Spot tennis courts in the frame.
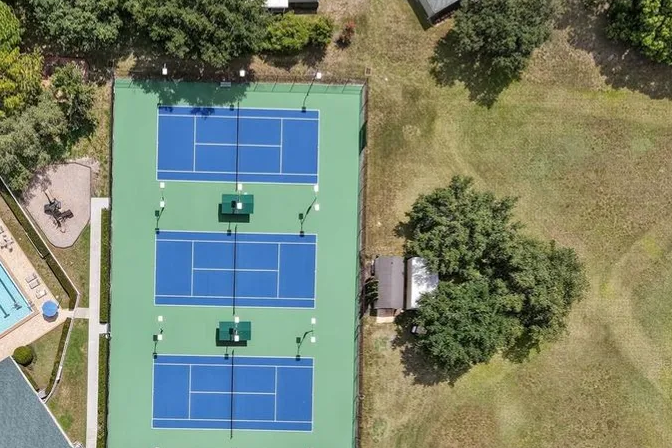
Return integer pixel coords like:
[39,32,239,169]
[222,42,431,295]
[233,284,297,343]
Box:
[151,348,315,438]
[156,99,319,189]
[153,224,317,313]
